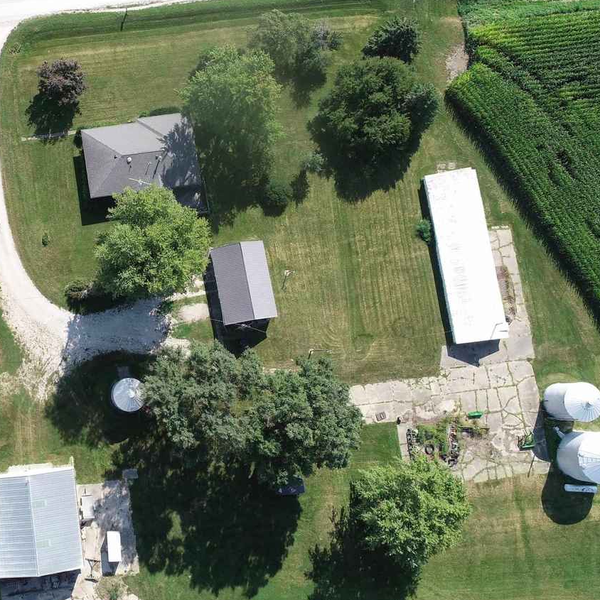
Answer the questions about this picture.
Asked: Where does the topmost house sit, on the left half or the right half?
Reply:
left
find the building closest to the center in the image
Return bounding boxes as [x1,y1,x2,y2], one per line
[210,240,277,325]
